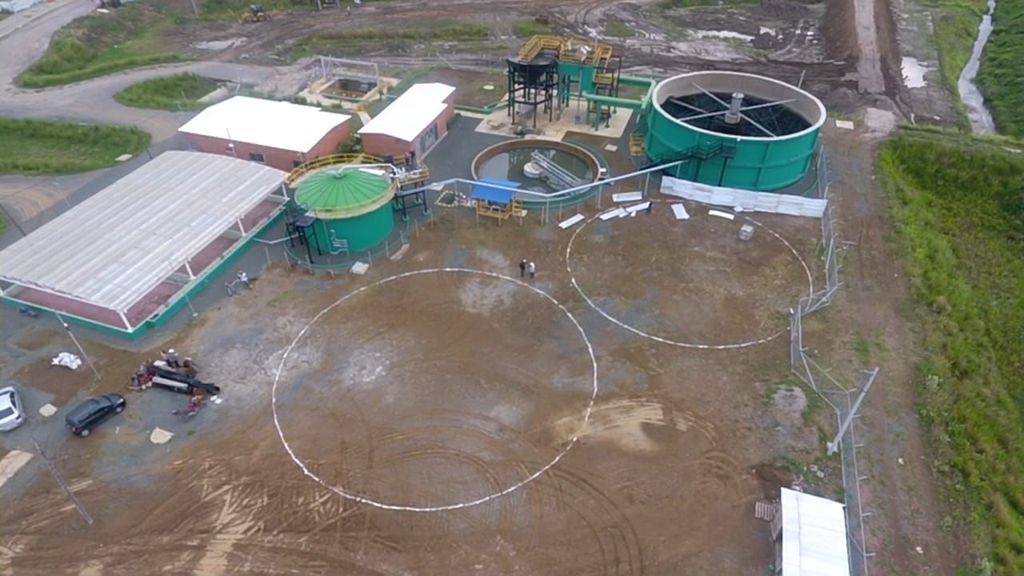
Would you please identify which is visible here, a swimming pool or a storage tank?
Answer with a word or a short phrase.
storage tank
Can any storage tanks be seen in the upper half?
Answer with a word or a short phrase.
Yes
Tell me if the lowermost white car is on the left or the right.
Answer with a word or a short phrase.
left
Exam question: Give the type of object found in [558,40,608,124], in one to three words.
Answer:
storage tank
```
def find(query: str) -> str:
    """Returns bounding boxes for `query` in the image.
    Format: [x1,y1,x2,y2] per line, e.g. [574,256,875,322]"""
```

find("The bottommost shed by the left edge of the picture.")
[0,153,287,340]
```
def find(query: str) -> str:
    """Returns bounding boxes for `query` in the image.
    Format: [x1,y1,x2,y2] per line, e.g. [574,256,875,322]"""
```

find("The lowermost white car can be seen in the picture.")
[0,384,23,429]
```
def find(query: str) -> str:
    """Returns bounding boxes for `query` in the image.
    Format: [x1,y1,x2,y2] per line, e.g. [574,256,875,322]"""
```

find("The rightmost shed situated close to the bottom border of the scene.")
[769,488,849,576]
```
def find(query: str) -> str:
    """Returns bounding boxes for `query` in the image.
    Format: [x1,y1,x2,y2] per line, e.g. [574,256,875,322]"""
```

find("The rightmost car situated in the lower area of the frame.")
[59,389,125,435]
